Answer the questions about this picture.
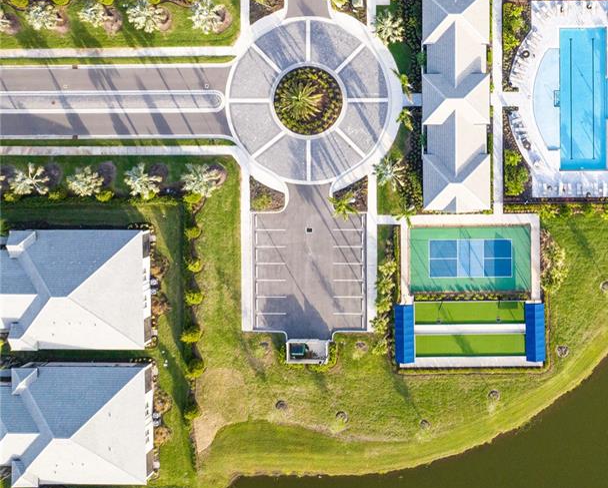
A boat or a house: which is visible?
house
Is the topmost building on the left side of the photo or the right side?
right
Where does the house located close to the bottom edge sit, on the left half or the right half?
left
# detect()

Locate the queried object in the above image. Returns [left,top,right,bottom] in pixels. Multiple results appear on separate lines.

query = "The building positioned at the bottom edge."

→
[0,361,153,486]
